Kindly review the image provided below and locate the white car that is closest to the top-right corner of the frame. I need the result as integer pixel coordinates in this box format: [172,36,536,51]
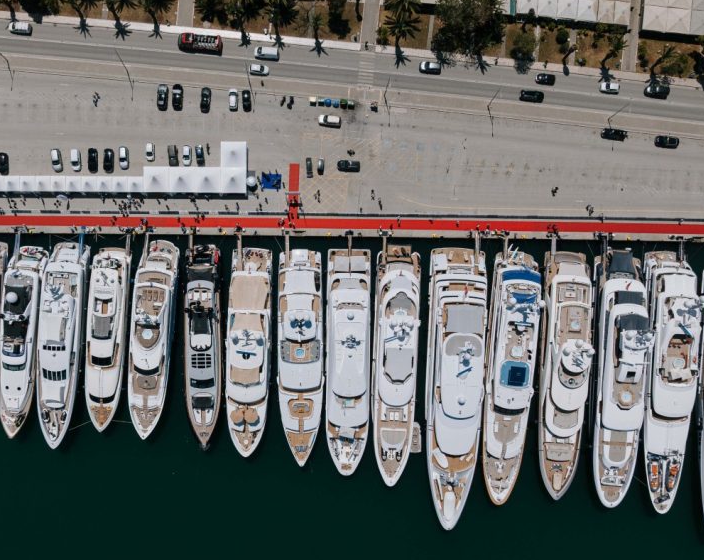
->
[599,80,622,92]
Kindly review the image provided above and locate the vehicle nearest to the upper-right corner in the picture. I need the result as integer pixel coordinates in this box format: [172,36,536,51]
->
[646,83,672,96]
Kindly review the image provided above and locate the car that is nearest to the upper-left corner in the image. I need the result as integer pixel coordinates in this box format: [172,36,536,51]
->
[8,20,32,34]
